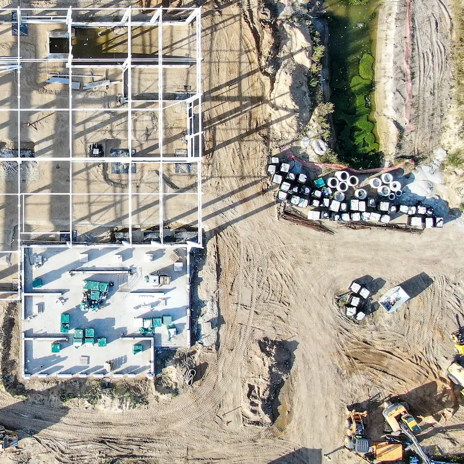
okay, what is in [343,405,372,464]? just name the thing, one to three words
work vehicle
